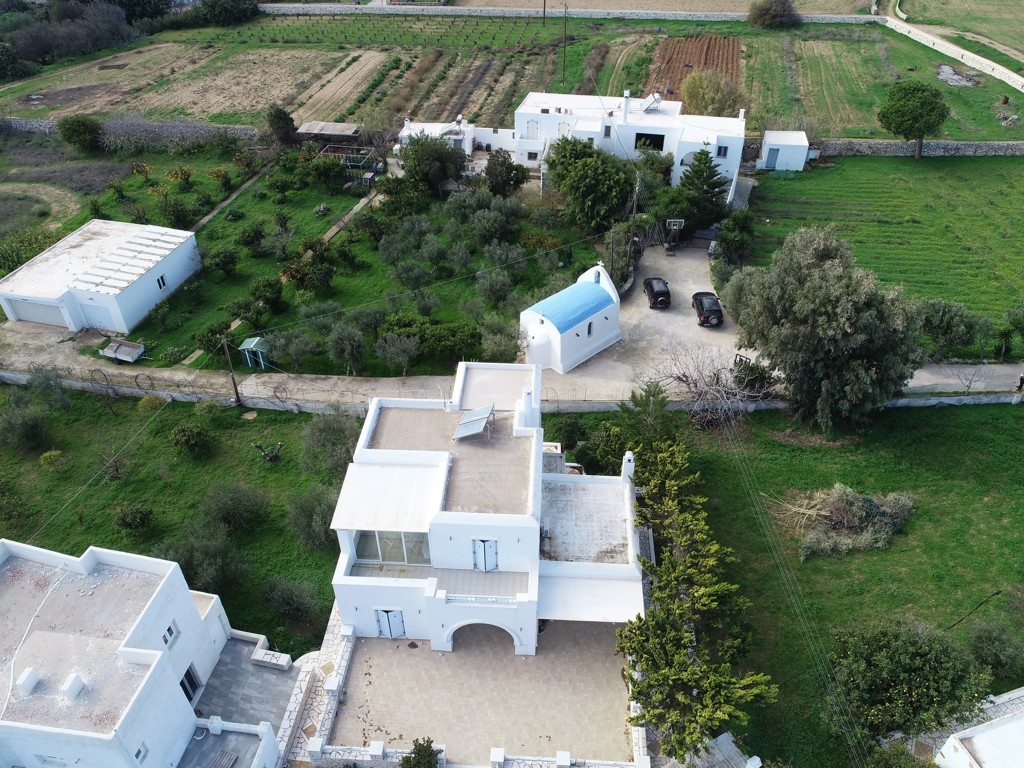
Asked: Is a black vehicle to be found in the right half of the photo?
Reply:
Yes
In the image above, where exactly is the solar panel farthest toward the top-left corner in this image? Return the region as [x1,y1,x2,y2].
[444,114,467,137]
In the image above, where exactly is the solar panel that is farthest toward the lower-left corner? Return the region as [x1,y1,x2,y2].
[452,400,496,445]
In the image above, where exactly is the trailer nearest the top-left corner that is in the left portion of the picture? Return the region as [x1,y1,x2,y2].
[95,340,153,366]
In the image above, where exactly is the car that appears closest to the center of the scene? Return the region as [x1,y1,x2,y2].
[642,276,673,306]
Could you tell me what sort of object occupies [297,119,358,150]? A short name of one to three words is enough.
shed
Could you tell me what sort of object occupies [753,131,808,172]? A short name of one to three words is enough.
shed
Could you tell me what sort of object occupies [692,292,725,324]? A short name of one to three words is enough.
car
